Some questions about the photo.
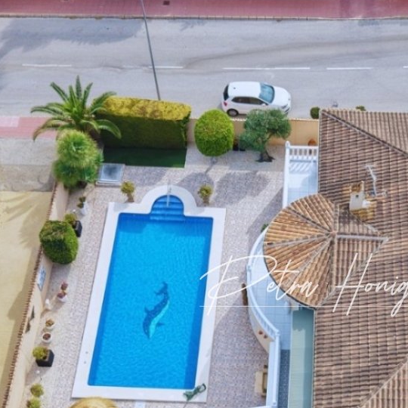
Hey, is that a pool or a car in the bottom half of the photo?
pool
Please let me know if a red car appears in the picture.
No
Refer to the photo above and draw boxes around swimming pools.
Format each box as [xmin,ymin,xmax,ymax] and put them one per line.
[71,172,226,402]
